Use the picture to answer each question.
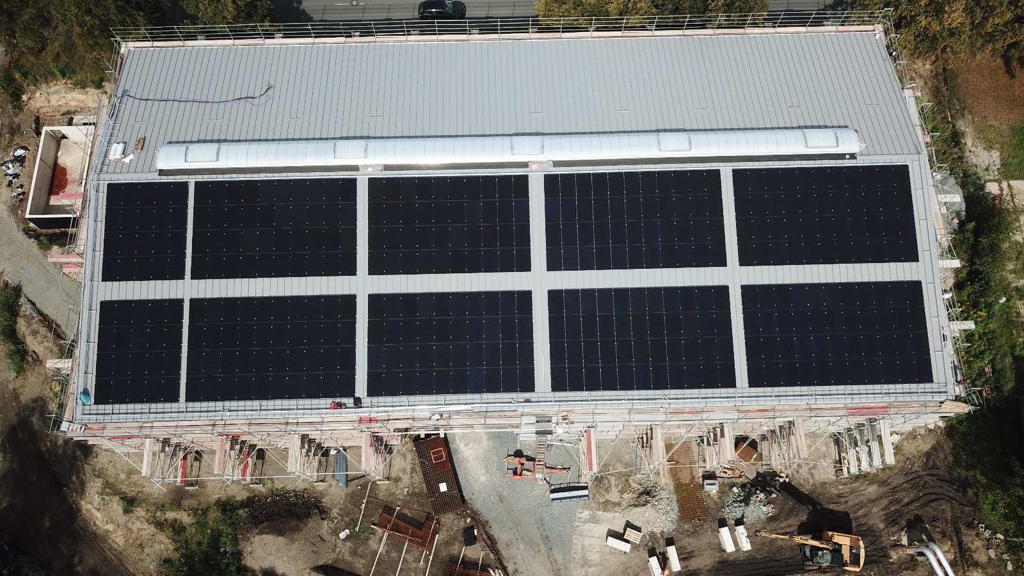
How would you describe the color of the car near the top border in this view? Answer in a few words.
black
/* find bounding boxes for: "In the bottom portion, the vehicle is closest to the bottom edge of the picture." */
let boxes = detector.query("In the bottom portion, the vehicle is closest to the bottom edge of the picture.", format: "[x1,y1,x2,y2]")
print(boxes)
[749,525,866,572]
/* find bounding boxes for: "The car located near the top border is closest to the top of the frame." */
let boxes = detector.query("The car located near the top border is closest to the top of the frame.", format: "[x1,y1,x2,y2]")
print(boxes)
[418,0,466,22]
